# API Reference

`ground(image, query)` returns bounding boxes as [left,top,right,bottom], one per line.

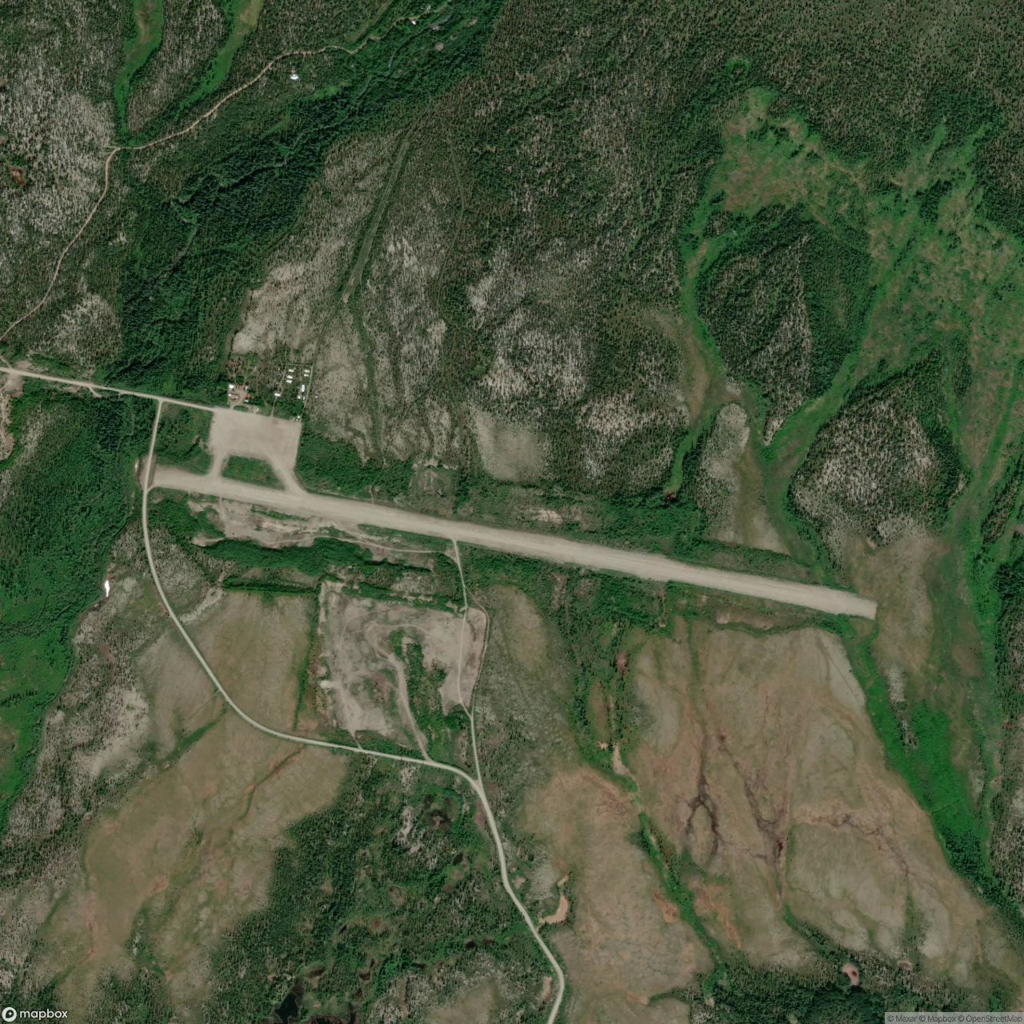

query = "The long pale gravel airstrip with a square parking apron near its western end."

[151,410,878,618]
